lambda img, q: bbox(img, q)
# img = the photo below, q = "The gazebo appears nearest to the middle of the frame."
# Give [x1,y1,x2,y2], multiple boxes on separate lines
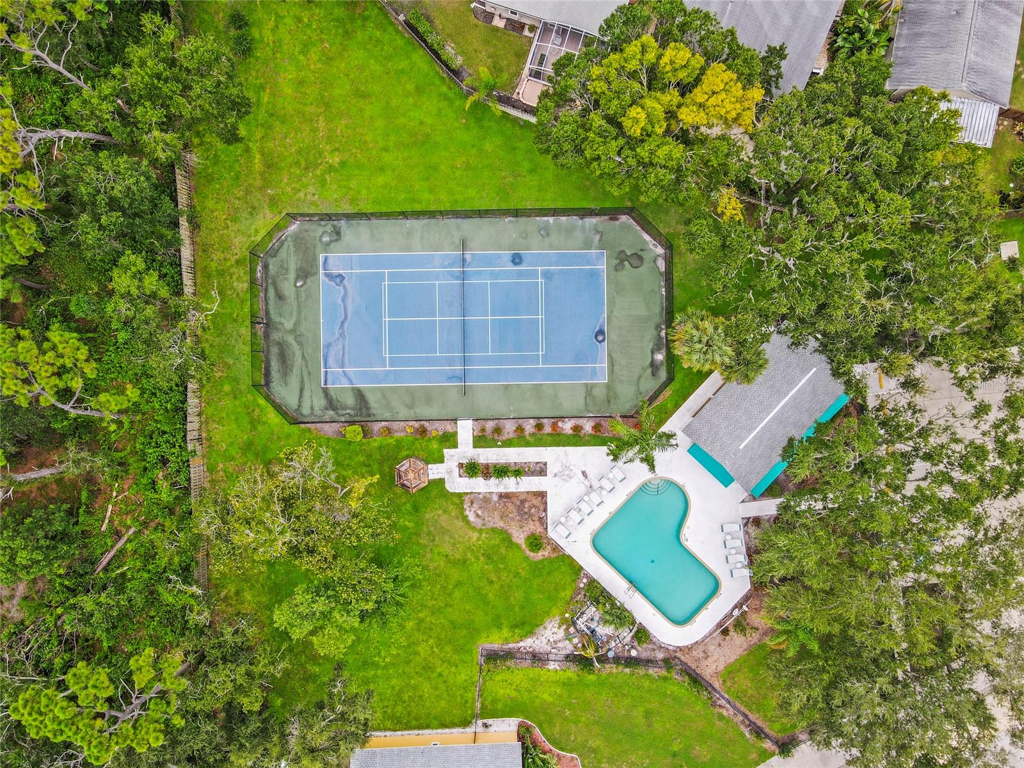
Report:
[394,456,430,494]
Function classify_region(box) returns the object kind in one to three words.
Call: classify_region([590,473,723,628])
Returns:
swimming pool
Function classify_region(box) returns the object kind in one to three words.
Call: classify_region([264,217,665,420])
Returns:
tennis court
